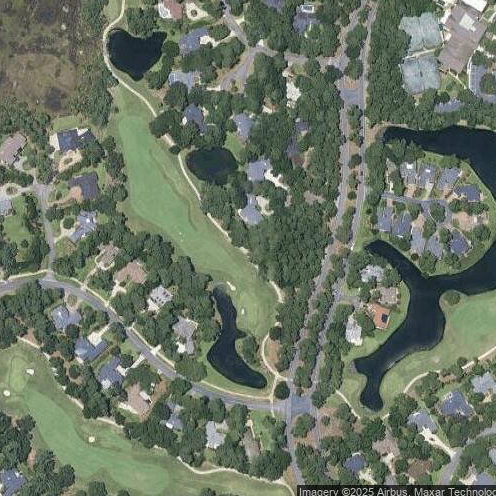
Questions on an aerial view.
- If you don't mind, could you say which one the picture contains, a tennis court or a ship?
tennis court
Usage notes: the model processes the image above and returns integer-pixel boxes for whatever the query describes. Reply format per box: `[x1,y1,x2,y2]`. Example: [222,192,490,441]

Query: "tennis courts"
[416,12,439,49]
[401,59,426,95]
[419,56,443,92]
[398,16,422,52]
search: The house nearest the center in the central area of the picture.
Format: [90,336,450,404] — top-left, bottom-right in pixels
[239,194,265,224]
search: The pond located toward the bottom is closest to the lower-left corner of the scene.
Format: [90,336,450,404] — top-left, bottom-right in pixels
[207,288,266,389]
